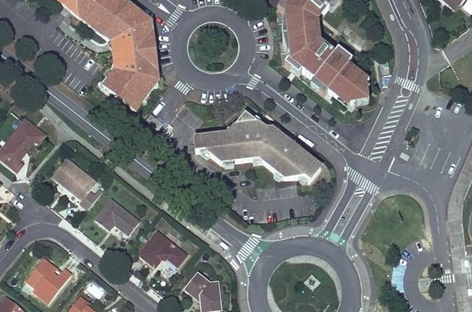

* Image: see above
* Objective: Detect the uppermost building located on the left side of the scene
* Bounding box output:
[54,0,160,116]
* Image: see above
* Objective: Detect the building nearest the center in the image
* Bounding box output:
[196,111,322,188]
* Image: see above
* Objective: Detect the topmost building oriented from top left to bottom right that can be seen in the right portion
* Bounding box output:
[278,0,369,115]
